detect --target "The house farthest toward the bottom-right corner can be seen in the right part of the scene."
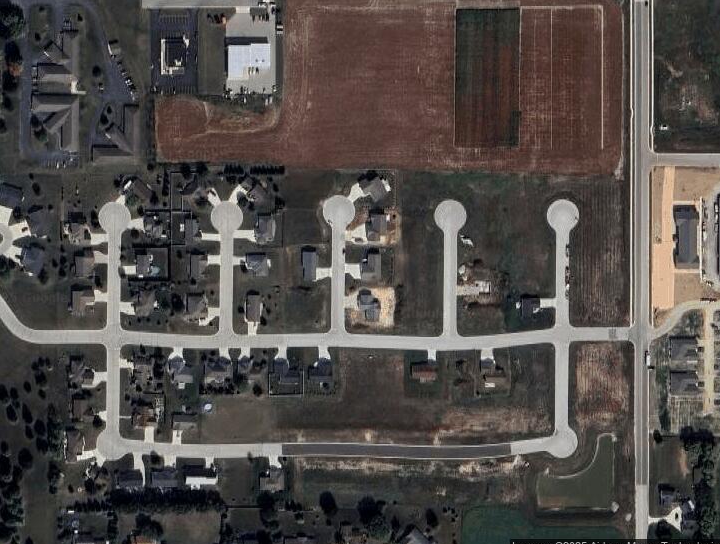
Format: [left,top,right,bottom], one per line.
[678,500,699,532]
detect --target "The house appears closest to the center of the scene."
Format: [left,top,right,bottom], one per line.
[360,252,380,284]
